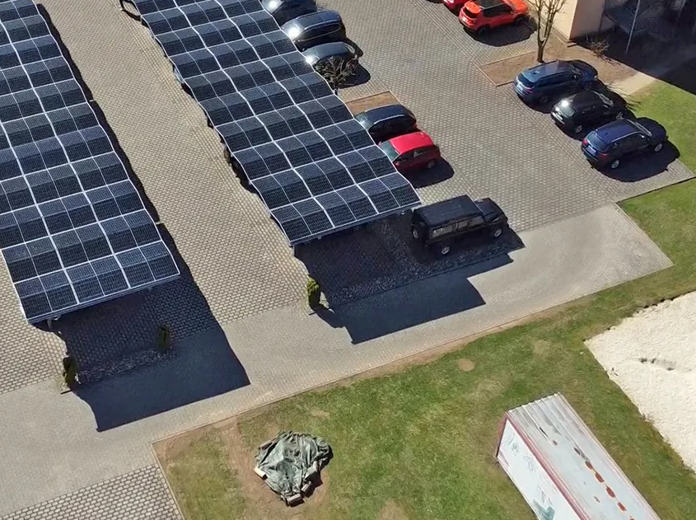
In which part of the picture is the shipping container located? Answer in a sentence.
You can find the shipping container in the bottom right area of the picture.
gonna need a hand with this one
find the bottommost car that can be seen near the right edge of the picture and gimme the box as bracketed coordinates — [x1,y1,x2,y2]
[584,111,677,167]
